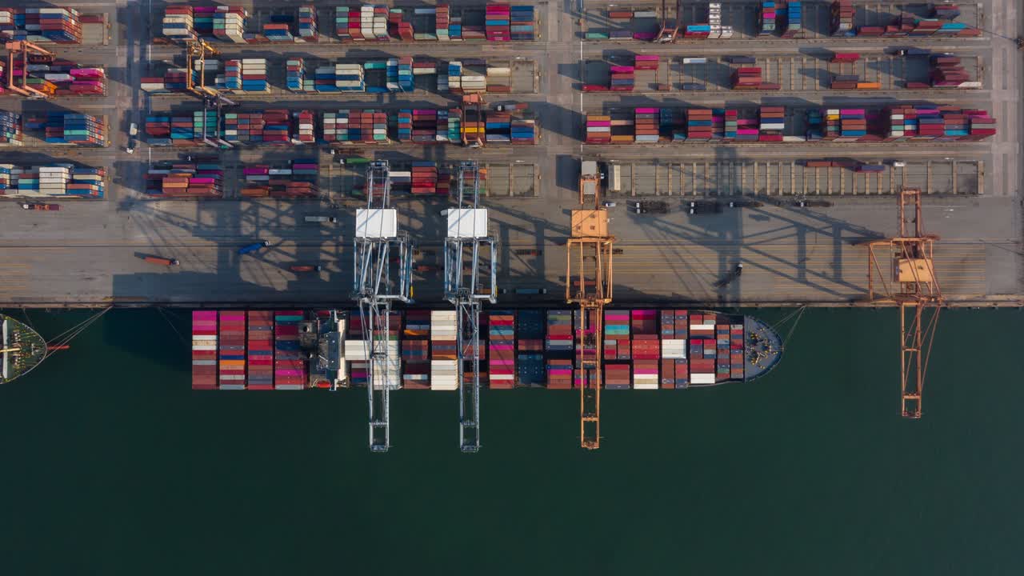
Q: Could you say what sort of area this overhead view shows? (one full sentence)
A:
It's a port.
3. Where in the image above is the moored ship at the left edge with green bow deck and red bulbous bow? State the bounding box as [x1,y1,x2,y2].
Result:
[0,315,69,384]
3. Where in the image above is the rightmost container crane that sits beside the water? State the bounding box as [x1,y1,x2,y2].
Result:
[843,185,943,419]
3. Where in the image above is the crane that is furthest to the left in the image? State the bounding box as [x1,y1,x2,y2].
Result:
[4,38,51,101]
